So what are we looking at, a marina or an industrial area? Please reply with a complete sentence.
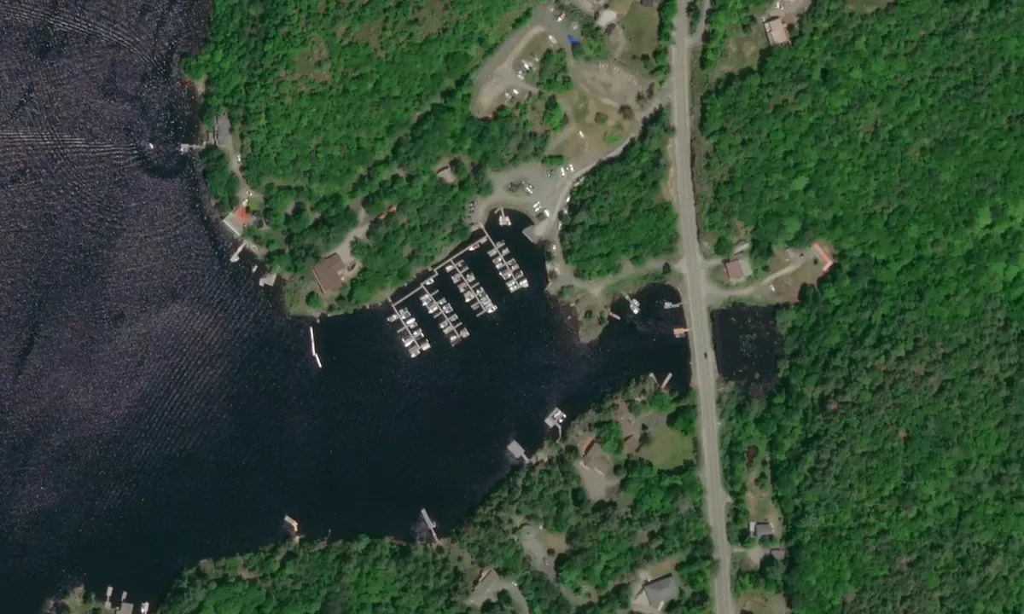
This image shows a marina.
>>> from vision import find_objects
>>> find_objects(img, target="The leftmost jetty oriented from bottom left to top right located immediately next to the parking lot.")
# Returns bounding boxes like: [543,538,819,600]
[388,235,488,307]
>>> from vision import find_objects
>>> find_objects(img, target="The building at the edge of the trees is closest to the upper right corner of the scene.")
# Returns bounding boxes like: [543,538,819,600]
[764,19,786,46]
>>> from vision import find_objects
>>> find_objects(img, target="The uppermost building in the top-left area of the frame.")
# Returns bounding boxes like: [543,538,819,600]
[208,115,233,144]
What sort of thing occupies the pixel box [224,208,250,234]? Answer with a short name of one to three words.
house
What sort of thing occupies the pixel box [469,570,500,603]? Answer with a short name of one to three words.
house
